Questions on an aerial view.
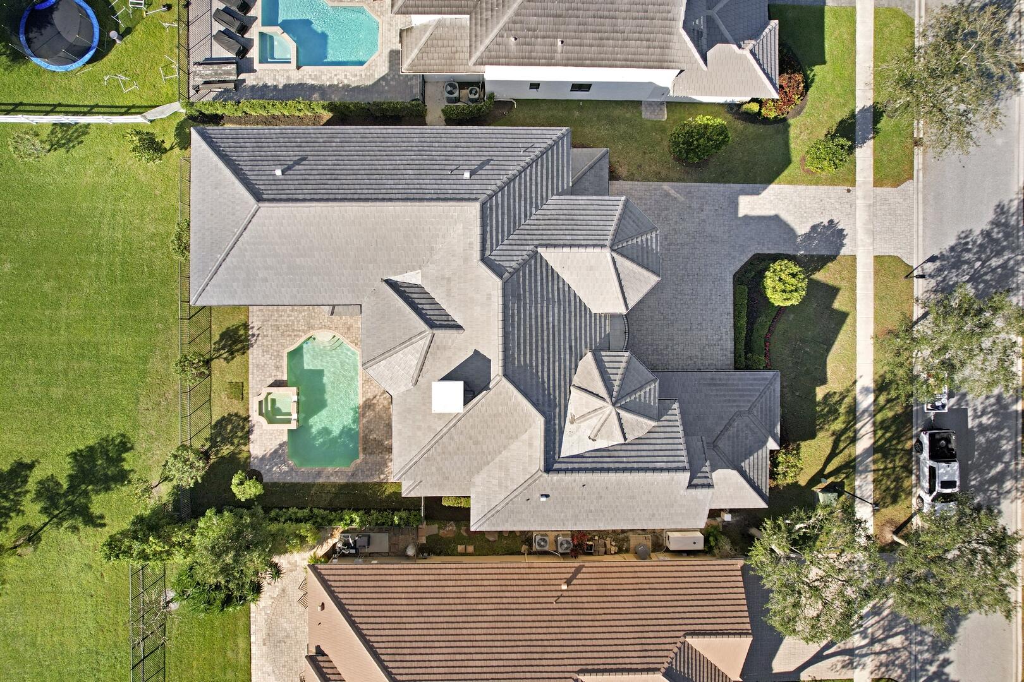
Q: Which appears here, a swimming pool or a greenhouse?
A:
swimming pool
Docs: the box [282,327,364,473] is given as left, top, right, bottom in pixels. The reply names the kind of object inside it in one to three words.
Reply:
swimming pool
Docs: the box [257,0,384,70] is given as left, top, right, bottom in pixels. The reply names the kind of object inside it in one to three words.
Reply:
swimming pool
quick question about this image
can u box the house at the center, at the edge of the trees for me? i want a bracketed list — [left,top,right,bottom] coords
[188,125,782,532]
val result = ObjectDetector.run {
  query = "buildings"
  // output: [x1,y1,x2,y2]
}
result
[304,553,753,682]
[389,0,781,103]
[188,125,782,532]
